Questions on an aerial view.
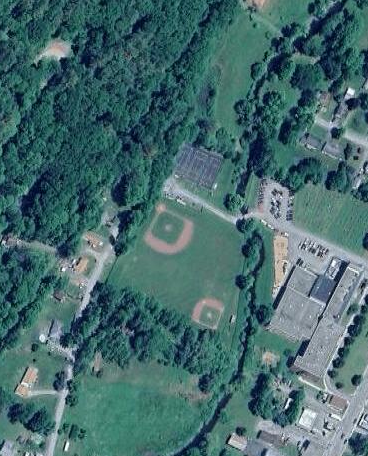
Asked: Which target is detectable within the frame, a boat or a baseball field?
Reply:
baseball field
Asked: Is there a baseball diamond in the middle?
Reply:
Yes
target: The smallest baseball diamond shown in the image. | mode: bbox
[190,296,225,337]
